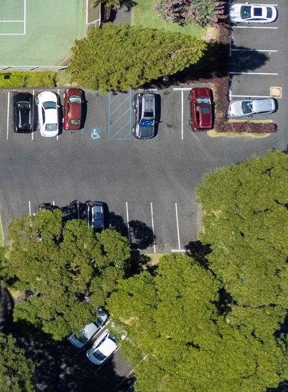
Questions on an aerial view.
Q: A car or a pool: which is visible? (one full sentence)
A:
The image shows a car.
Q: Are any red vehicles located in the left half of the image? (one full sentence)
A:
Yes, in the left half of the image there is a red vehicle.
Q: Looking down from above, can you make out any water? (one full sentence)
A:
No, no water is visible.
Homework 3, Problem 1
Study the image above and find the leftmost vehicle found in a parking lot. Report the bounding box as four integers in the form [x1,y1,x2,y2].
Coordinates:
[11,93,35,134]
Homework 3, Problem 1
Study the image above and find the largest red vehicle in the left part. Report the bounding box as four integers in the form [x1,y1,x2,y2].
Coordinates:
[61,88,85,130]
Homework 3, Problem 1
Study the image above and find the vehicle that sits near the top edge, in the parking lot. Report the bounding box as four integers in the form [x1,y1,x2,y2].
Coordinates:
[228,2,276,23]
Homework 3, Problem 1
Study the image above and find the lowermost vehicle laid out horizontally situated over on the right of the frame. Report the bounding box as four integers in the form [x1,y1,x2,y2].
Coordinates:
[226,97,275,117]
